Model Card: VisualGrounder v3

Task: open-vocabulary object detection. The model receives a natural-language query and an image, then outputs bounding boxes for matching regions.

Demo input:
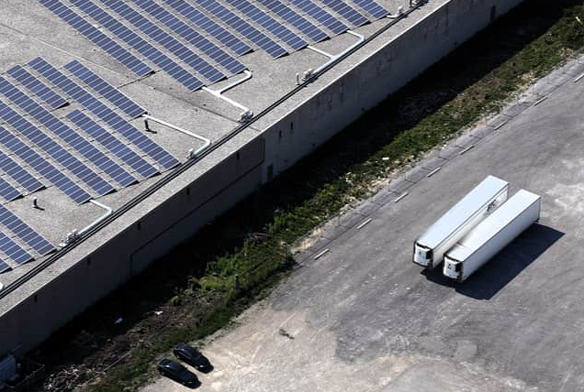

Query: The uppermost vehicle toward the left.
[169,342,212,369]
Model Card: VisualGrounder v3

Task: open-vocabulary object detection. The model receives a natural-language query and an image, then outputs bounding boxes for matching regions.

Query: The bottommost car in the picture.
[153,359,196,385]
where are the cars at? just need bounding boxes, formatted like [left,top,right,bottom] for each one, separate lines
[153,359,196,385]
[169,342,212,369]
